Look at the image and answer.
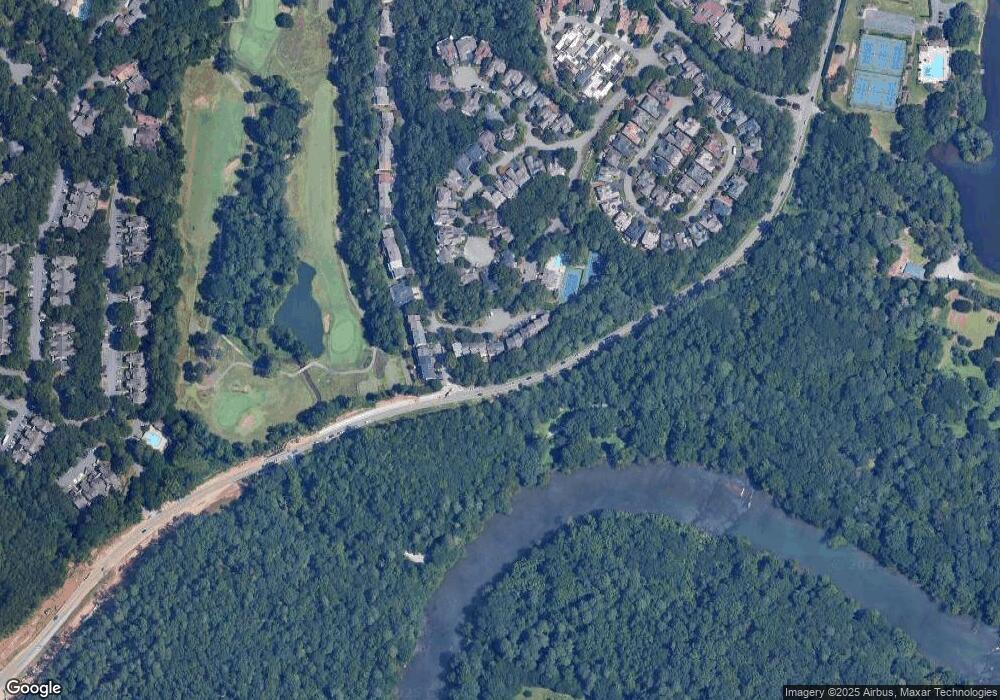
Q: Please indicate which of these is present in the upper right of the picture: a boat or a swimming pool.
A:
swimming pool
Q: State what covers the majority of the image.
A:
trees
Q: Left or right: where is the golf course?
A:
left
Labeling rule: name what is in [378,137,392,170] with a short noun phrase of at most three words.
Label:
house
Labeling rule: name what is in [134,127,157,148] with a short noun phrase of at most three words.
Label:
house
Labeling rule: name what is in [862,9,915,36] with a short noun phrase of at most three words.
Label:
sports court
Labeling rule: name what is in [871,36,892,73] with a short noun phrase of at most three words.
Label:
tennis court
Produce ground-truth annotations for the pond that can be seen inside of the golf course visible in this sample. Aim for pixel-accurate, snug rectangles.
[272,262,324,357]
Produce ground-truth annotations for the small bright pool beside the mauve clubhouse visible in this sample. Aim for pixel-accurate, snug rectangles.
[544,254,567,290]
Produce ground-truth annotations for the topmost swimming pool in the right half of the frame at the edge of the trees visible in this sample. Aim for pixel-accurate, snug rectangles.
[919,46,949,83]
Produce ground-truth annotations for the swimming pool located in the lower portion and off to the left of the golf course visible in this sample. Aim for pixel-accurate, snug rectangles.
[142,425,166,452]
